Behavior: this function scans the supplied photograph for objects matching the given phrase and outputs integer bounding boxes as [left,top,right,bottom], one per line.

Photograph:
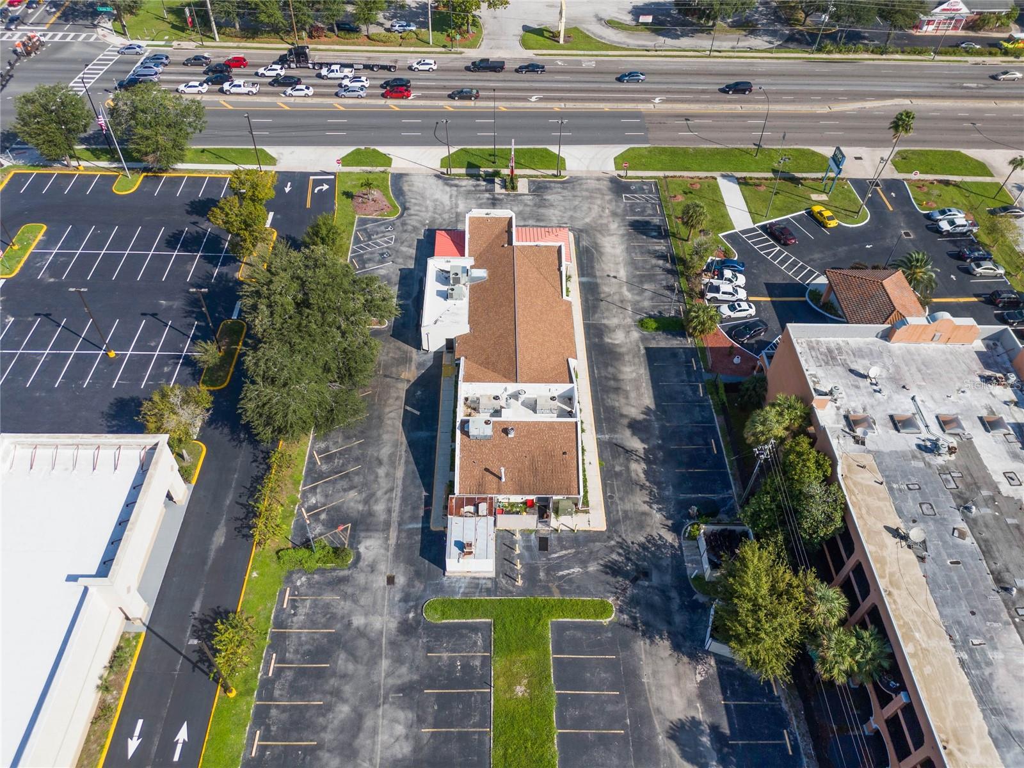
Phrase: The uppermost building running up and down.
[420,206,595,522]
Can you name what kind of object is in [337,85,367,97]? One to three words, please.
vehicle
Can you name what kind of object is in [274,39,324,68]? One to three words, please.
truck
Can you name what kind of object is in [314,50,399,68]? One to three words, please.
trailer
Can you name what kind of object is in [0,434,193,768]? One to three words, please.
building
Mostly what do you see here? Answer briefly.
paved ground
